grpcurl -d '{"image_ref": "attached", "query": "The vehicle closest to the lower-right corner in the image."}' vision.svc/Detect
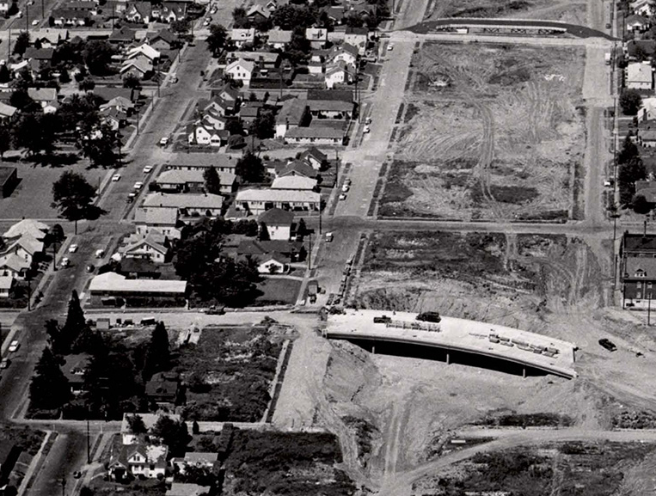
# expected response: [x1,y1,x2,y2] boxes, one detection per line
[595,339,621,353]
